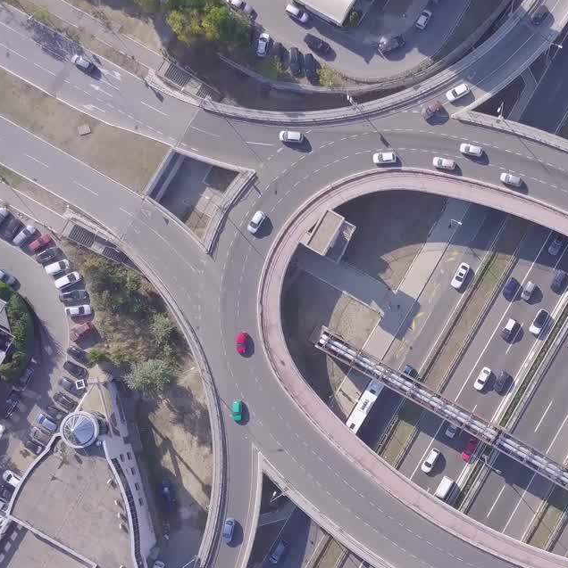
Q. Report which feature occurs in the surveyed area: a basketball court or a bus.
bus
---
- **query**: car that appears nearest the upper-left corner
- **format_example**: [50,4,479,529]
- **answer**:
[70,54,97,74]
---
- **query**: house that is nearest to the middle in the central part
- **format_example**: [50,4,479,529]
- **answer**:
[305,209,362,262]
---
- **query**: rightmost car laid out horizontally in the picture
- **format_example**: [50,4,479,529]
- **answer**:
[499,173,524,187]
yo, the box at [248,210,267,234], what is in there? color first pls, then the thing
white car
